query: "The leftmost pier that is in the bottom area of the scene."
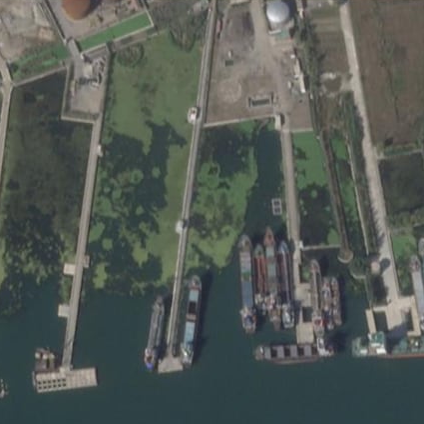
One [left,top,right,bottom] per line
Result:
[36,120,103,392]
